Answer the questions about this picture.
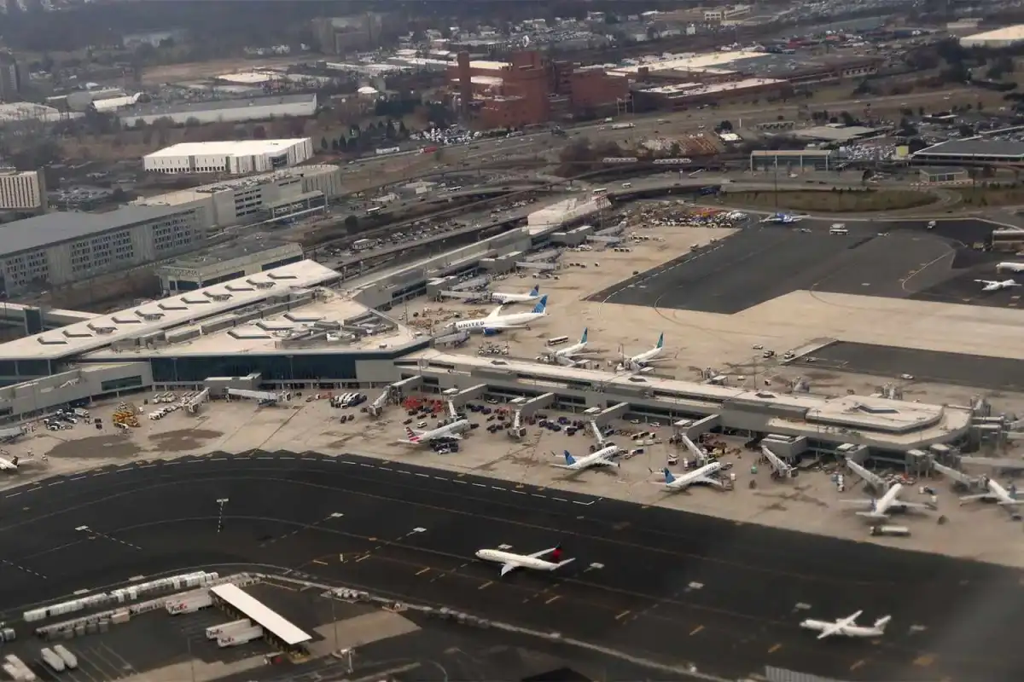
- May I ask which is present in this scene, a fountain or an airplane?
airplane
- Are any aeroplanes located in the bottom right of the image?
Yes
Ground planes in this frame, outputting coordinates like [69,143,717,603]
[646,461,720,490]
[967,480,1024,506]
[445,297,552,335]
[982,271,1024,294]
[475,540,572,576]
[755,199,811,226]
[544,444,618,472]
[399,421,468,444]
[535,330,596,361]
[997,264,1024,276]
[800,609,892,641]
[616,335,674,371]
[840,482,929,515]
[0,455,31,472]
[493,288,545,306]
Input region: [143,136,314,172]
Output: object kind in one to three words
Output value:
building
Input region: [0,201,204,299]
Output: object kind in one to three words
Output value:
building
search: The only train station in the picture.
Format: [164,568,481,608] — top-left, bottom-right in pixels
[750,151,833,174]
